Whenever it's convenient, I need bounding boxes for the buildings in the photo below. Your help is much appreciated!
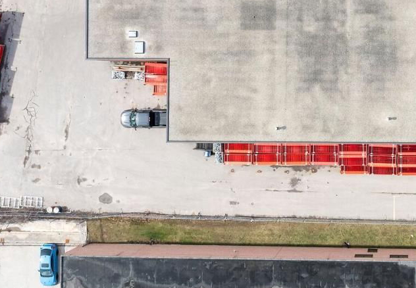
[86,0,416,143]
[62,243,416,288]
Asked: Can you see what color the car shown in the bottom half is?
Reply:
blue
